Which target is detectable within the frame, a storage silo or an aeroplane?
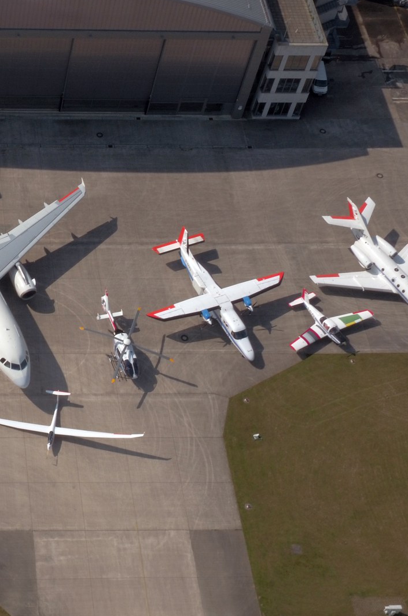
aeroplane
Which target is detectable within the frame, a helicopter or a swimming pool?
helicopter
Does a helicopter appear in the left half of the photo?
Yes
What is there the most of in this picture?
paved ground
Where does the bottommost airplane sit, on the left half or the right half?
left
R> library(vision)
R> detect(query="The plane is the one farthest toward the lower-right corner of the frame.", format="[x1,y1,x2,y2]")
[289,289,372,352]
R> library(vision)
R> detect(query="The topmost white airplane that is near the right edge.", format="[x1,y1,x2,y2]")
[312,197,408,305]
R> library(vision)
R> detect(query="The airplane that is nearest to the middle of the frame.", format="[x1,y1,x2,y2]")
[144,229,281,361]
